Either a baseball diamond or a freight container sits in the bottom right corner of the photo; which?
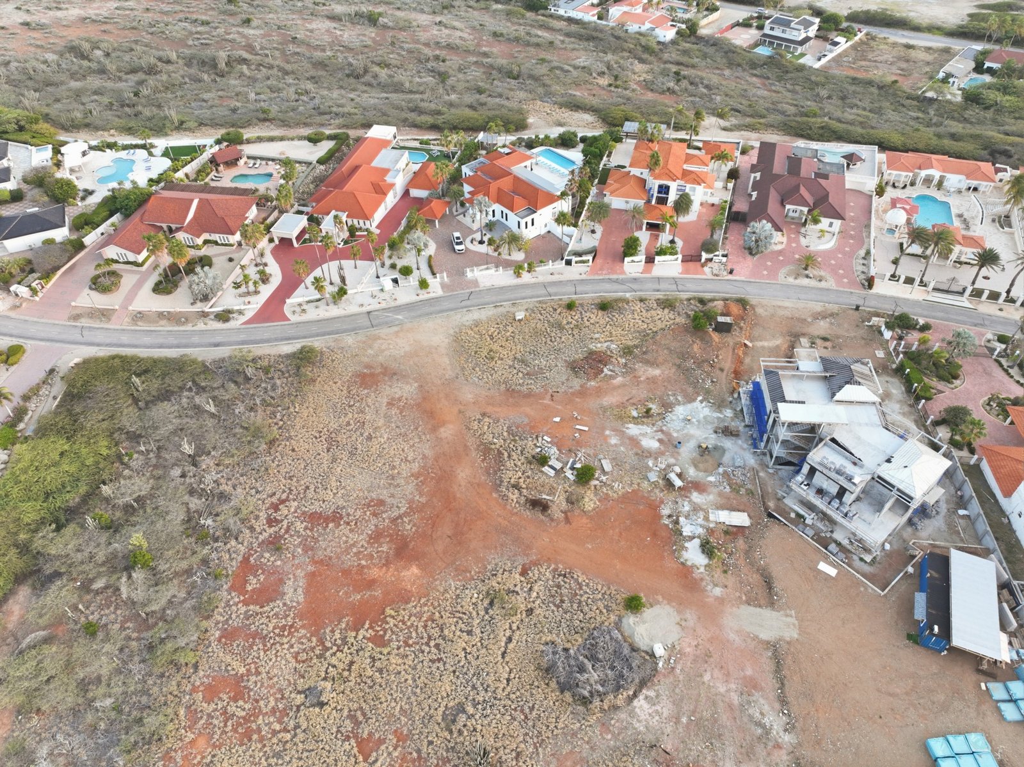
freight container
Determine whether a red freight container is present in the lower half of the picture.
No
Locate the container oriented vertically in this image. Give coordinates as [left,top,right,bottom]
[913,551,951,650]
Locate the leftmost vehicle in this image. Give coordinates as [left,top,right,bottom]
[451,231,465,250]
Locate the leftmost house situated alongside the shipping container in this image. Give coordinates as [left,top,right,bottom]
[753,348,954,563]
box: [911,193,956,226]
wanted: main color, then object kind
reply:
blue swimming pool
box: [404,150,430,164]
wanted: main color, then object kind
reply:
blue swimming pool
